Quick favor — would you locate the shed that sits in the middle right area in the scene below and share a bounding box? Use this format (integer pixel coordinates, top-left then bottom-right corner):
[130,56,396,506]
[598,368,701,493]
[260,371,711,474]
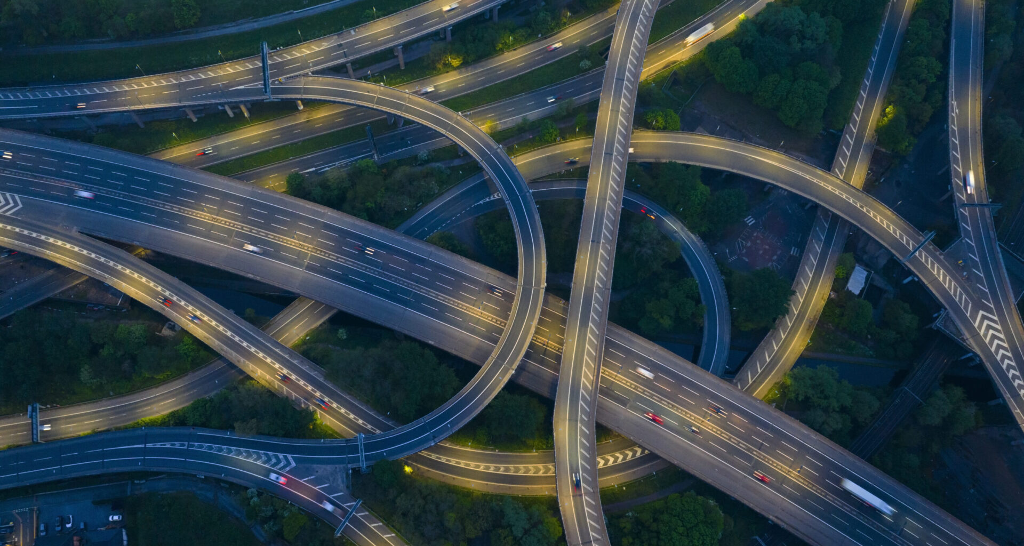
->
[844,263,874,299]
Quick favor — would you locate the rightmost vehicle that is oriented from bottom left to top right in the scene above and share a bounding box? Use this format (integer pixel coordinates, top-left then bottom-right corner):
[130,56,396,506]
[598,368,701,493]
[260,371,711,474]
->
[688,22,714,43]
